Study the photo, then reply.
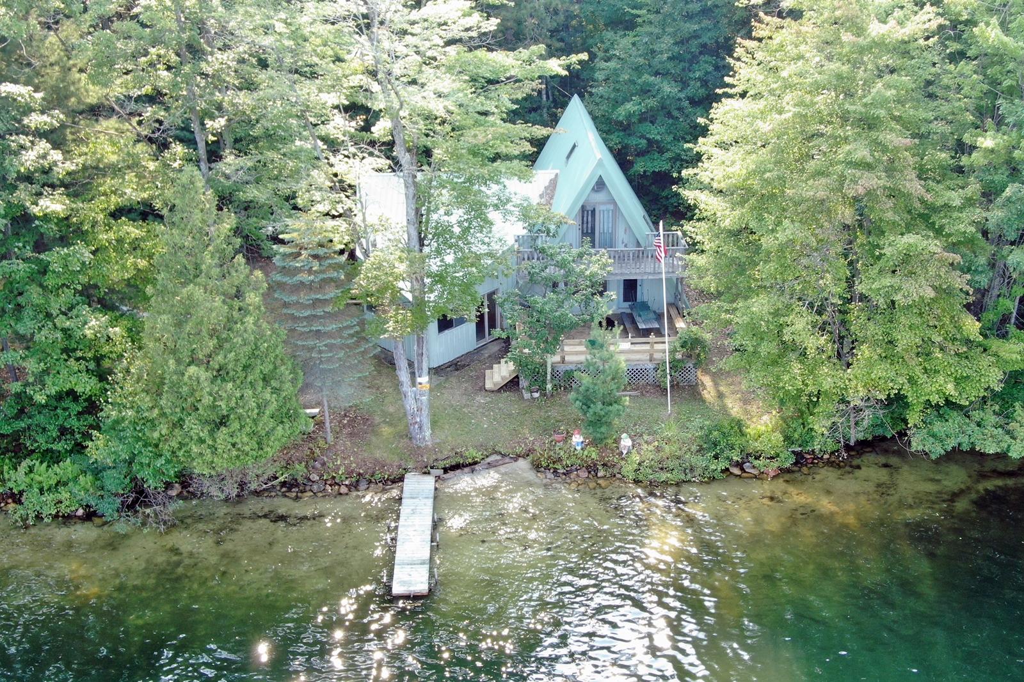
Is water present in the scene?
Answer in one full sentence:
Yes, there's water in this view.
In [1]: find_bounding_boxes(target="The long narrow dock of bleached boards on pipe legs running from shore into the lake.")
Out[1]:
[389,475,440,600]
